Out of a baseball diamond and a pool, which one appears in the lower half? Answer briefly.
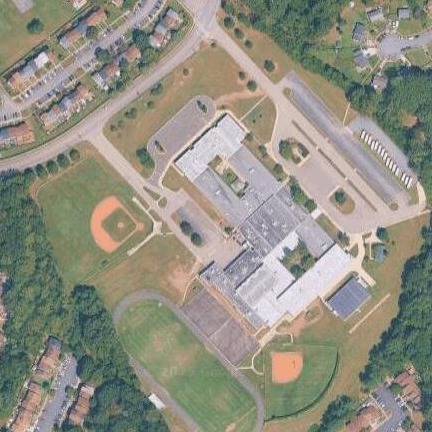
baseball diamond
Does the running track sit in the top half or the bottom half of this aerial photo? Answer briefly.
bottom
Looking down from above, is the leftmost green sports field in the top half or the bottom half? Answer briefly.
bottom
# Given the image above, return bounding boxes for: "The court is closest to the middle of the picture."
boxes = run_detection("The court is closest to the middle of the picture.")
[183,288,232,337]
